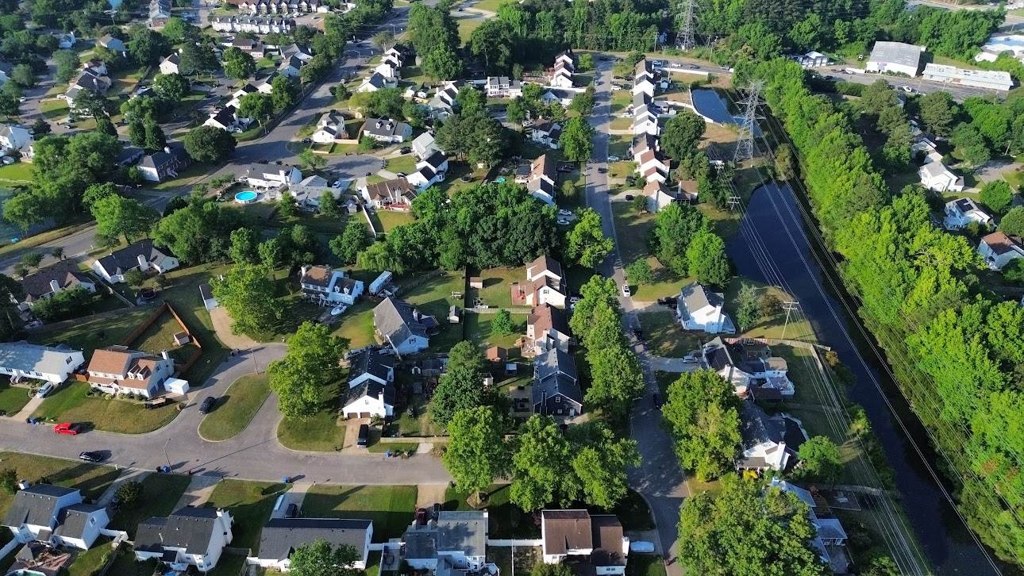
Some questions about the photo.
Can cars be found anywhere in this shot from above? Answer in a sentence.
Yes, there is a car in the image.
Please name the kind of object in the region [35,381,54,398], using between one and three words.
car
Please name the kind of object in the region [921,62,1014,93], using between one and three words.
building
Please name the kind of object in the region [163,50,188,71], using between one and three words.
house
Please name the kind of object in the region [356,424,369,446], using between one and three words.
vehicle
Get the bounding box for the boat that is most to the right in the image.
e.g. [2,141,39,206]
[329,300,351,317]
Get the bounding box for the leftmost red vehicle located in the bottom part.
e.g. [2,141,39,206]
[52,421,84,436]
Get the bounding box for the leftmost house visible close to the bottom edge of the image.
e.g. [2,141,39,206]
[5,481,108,576]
